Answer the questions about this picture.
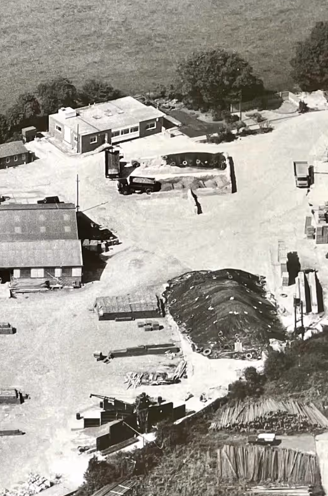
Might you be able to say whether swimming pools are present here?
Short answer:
No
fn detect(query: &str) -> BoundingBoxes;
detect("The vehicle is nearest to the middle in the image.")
[120,173,164,193]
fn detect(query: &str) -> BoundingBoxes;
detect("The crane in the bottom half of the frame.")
[93,389,154,422]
